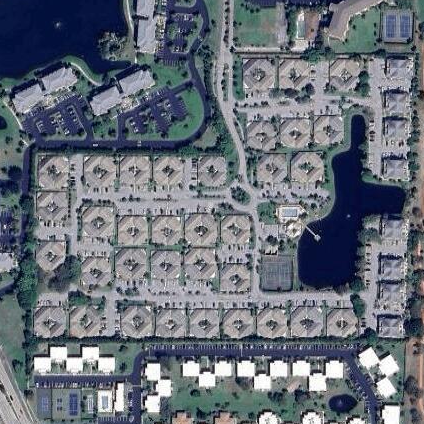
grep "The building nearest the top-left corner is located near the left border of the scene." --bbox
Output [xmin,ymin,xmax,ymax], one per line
[14,65,78,112]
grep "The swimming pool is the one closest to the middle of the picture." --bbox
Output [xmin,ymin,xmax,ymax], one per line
[278,205,300,221]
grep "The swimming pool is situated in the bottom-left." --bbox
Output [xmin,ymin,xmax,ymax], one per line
[98,390,112,412]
